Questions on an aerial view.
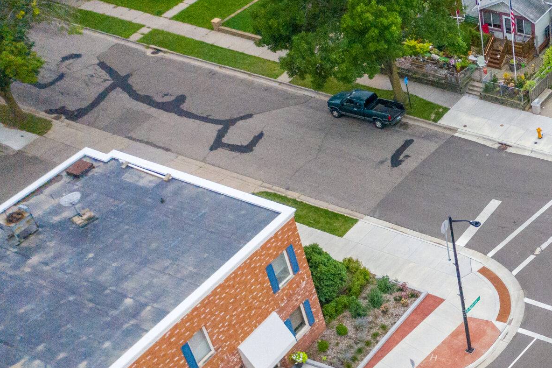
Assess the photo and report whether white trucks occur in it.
No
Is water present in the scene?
No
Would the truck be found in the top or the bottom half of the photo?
top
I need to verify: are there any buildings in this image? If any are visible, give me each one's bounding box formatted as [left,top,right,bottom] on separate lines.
[0,147,323,368]
[461,0,552,63]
